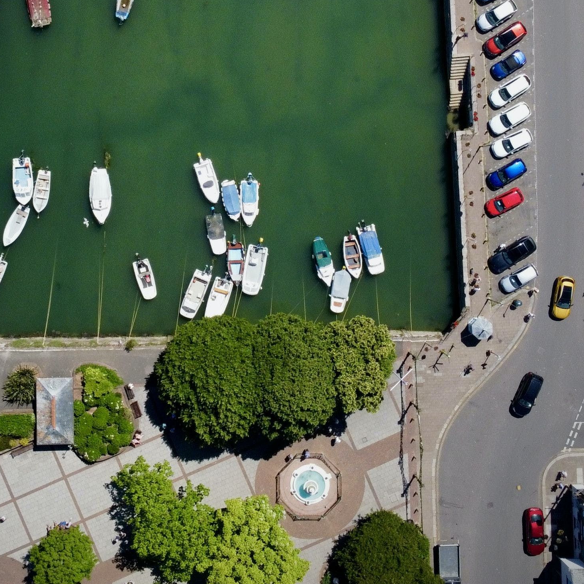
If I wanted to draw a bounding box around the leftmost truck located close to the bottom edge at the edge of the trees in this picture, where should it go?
[438,543,465,584]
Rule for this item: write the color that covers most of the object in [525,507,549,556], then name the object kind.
red car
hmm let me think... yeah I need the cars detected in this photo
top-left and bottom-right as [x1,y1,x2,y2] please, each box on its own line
[491,49,529,79]
[476,0,520,31]
[486,159,530,191]
[508,371,543,418]
[483,21,529,58]
[488,100,534,135]
[488,72,534,107]
[485,188,527,219]
[525,507,549,556]
[499,262,542,294]
[488,235,540,274]
[491,127,535,160]
[550,276,577,319]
